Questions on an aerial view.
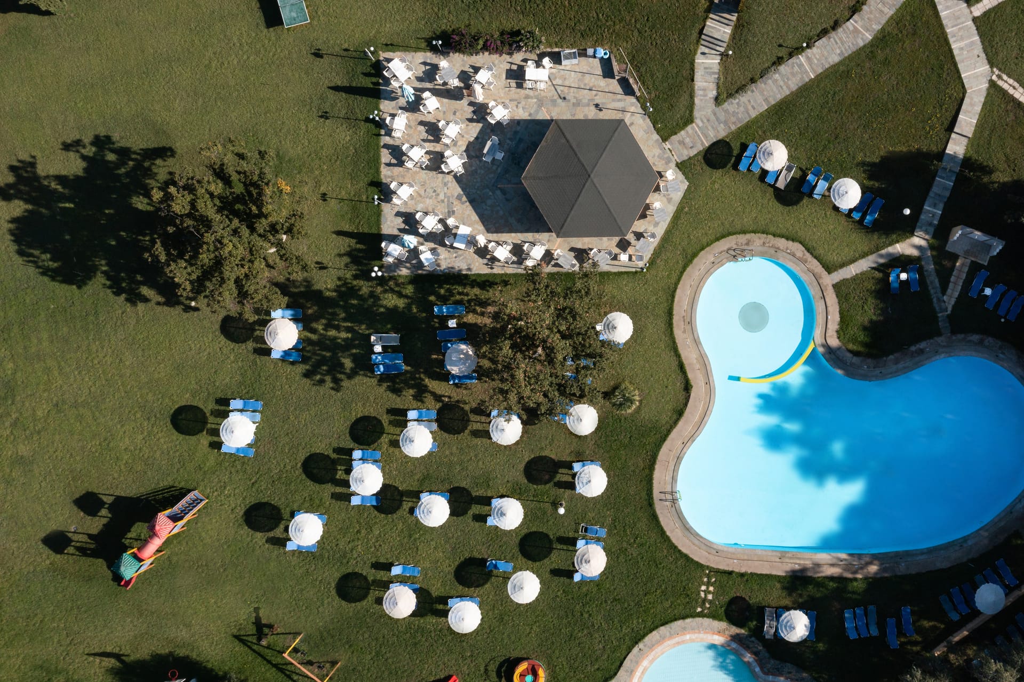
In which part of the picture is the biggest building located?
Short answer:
top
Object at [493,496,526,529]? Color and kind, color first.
white umbrella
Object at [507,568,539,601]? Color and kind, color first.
white umbrella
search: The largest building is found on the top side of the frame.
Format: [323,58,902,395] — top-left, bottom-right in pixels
[521,117,660,239]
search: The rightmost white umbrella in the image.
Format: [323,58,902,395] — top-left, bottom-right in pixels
[828,178,860,210]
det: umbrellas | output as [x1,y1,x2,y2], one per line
[385,585,418,618]
[222,413,256,446]
[575,545,608,578]
[603,313,635,345]
[778,611,810,643]
[449,597,483,631]
[507,568,539,601]
[489,413,522,447]
[575,465,608,497]
[564,402,596,434]
[444,340,478,374]
[289,512,324,547]
[472,85,485,105]
[493,496,526,529]
[265,317,299,350]
[417,491,450,524]
[403,236,418,251]
[399,423,432,456]
[756,137,788,168]
[475,237,488,251]
[971,584,1006,616]
[400,85,414,105]
[347,461,380,495]
[828,178,860,210]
